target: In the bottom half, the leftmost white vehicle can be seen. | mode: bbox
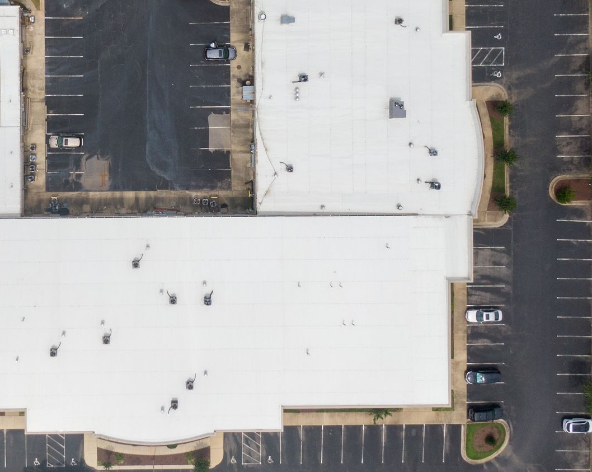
[464,308,503,324]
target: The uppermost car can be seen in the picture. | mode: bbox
[205,40,236,61]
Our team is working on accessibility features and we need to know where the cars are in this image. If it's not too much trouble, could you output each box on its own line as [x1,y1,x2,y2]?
[464,368,503,386]
[49,132,84,149]
[205,40,236,61]
[562,417,592,434]
[464,308,503,324]
[467,405,502,423]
